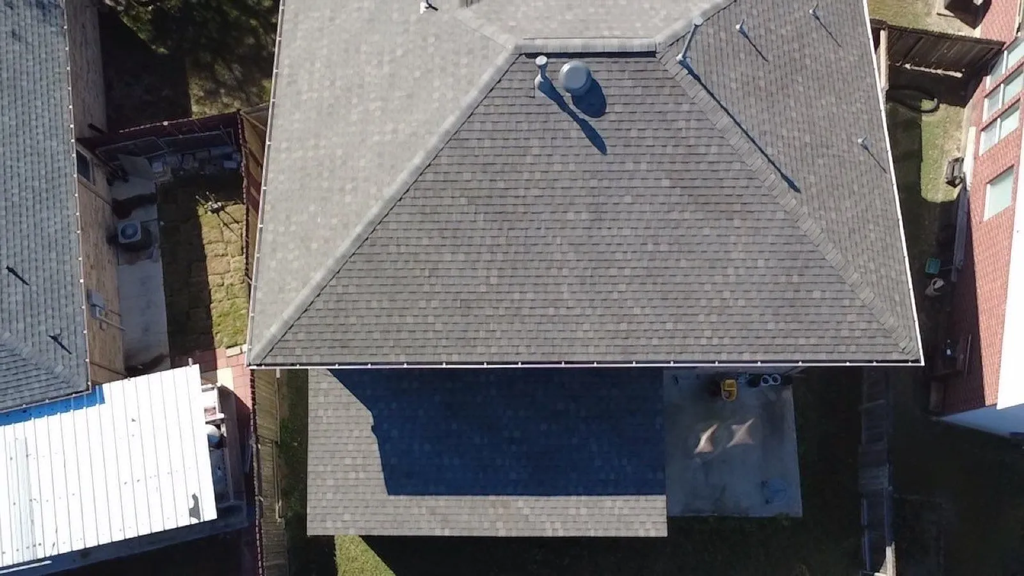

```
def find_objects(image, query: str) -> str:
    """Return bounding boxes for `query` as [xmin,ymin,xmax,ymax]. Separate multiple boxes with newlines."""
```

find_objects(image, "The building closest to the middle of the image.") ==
[244,0,923,537]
